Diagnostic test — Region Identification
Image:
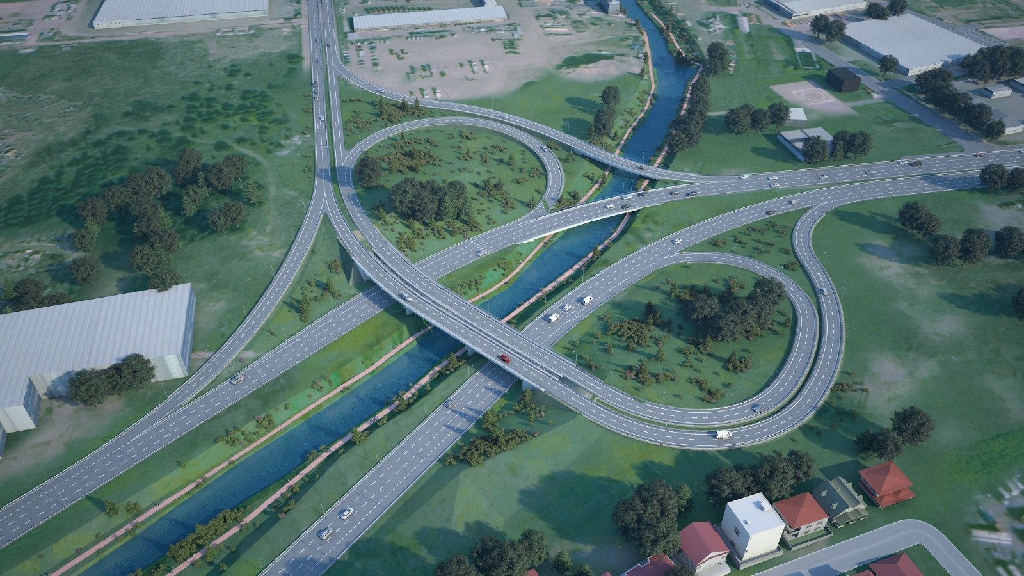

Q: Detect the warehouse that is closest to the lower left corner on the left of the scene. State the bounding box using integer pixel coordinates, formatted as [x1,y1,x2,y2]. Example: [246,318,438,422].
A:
[0,285,195,451]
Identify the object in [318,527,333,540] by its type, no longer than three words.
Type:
vehicle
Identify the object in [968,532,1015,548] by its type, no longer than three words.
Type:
shed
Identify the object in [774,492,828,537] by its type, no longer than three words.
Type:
house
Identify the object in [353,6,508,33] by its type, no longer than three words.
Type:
building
